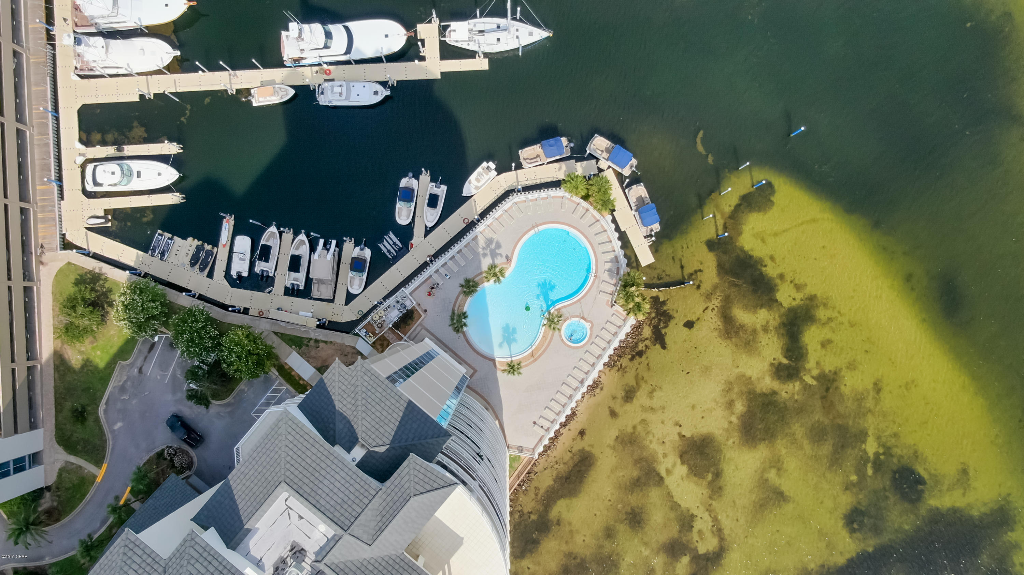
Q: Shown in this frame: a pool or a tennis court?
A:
pool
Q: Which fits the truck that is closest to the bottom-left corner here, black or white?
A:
black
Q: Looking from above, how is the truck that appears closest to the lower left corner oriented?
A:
diagonally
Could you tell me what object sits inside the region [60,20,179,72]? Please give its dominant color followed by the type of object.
white boat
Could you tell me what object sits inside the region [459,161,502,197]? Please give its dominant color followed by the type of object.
white boat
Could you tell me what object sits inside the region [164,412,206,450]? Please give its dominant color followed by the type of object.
black truck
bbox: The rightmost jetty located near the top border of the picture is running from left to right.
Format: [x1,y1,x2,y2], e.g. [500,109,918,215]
[74,24,488,109]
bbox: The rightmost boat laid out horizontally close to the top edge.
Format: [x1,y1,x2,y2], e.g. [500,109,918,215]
[435,0,553,51]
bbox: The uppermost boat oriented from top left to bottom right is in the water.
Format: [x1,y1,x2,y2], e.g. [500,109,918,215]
[587,136,641,177]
